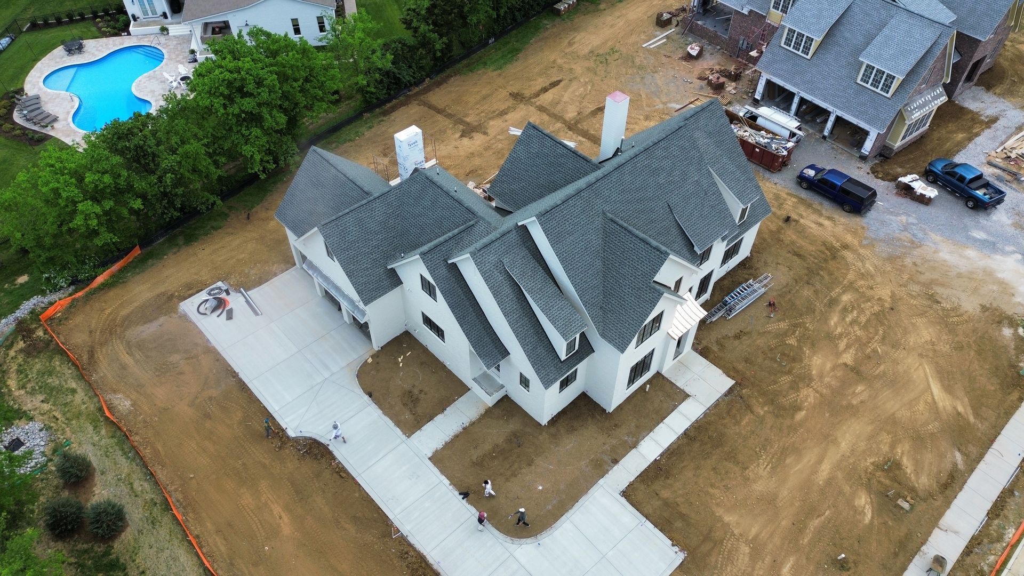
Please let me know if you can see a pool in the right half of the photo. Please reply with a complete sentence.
No, I can find no pool in the right half of the photo.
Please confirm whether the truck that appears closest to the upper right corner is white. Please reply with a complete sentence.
No, from above the truck that appears closest to the upper right corner looks blue.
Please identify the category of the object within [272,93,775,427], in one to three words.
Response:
house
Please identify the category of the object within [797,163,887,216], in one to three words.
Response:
truck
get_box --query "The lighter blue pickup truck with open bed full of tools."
[919,156,1013,207]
